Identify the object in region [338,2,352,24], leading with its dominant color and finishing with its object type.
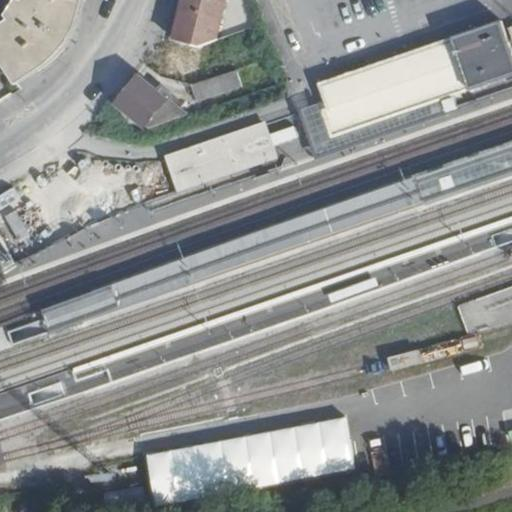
white car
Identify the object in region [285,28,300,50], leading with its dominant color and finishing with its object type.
white car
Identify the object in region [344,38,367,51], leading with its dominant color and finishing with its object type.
white vehicle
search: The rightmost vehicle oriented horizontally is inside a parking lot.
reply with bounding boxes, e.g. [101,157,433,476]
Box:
[460,360,490,376]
